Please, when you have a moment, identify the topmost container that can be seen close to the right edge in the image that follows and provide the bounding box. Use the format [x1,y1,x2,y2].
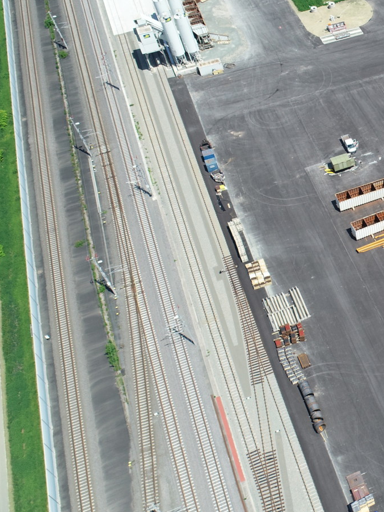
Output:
[334,177,384,210]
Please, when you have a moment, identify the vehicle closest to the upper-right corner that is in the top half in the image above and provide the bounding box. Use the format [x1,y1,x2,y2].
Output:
[339,134,358,151]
